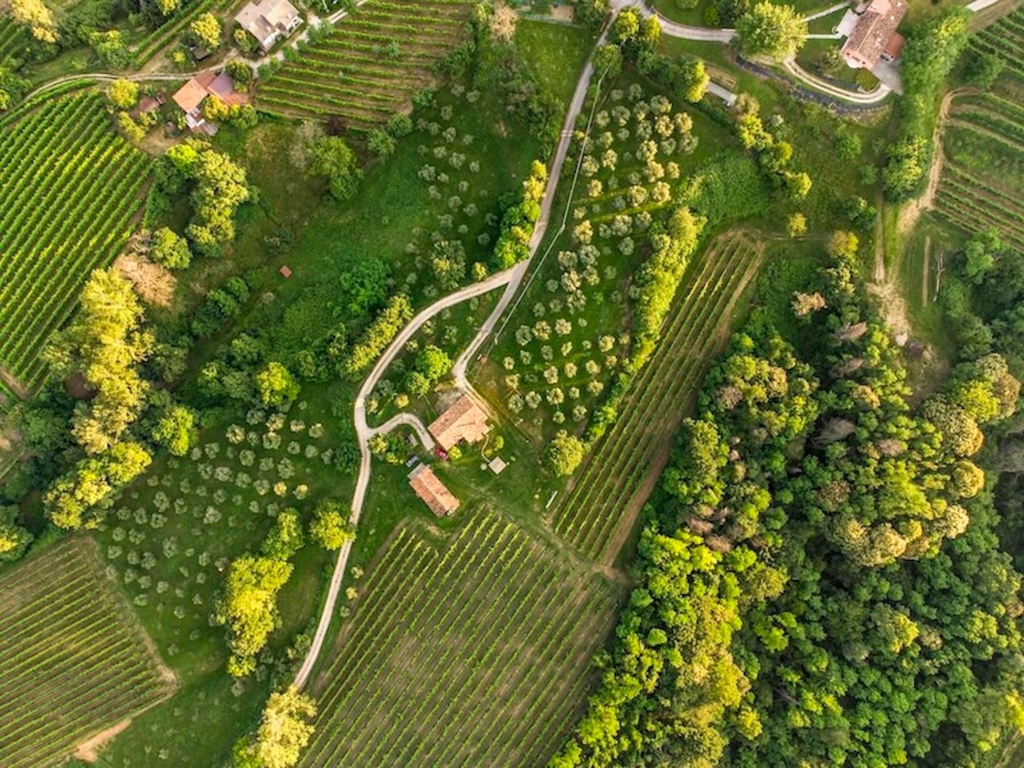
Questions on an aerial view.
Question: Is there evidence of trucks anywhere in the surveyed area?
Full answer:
No, no truck is visible in the view.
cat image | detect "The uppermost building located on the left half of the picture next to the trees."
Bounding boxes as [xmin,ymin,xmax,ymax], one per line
[234,0,305,52]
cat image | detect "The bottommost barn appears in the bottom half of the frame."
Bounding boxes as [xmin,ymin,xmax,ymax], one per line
[407,461,462,517]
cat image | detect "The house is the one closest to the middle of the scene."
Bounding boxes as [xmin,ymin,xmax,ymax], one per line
[427,393,493,451]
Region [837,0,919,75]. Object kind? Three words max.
house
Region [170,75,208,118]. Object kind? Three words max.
building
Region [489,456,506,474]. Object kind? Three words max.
gazebo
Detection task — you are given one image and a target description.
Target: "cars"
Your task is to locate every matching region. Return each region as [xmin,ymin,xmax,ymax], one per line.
[435,447,449,459]
[405,456,419,467]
